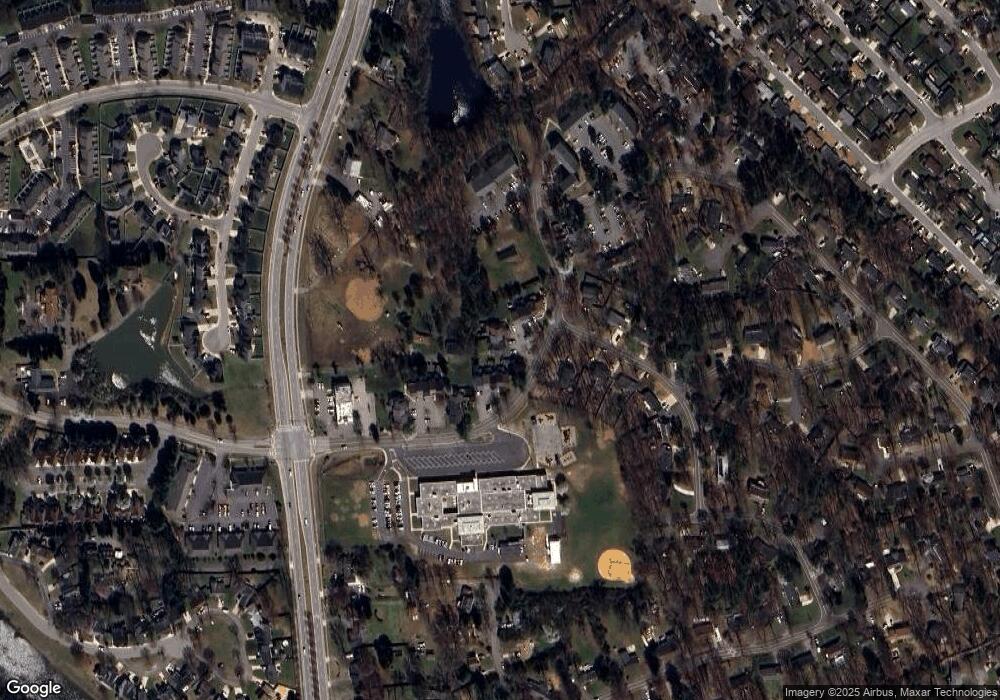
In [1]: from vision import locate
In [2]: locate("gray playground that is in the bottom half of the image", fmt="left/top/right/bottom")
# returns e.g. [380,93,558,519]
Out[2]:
[533,413,576,468]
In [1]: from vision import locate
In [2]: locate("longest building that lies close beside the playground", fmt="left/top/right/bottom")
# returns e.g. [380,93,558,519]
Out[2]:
[417,474,556,546]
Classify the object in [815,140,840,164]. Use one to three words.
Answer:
house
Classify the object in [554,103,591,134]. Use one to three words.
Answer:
building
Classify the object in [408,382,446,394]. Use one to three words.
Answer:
house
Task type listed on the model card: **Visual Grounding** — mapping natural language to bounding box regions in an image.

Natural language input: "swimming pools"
[20,139,45,169]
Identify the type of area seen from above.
residential area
